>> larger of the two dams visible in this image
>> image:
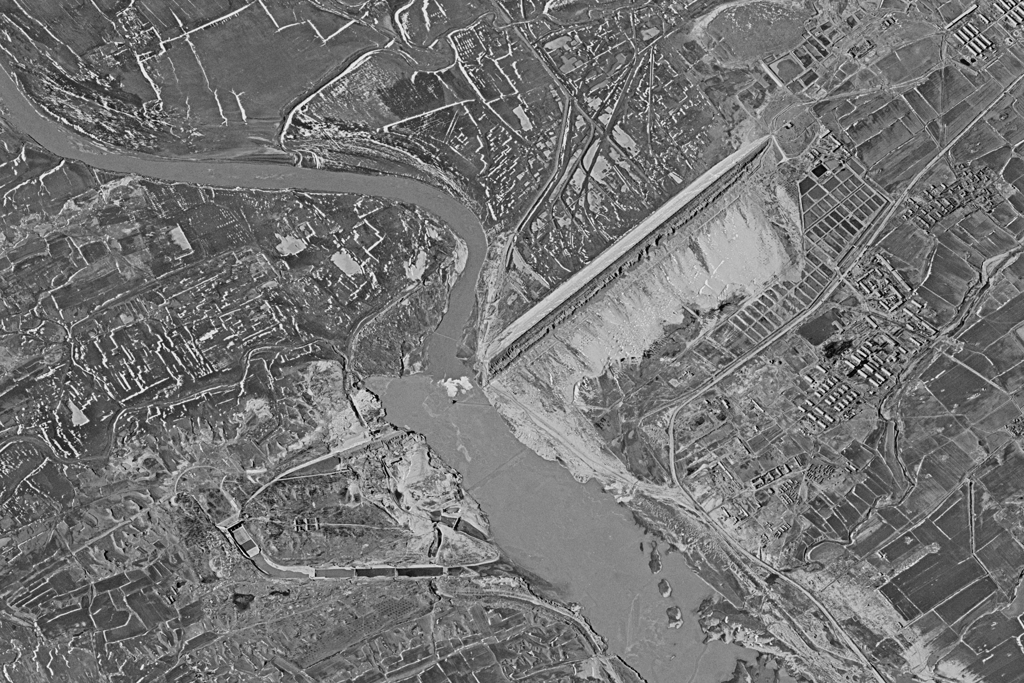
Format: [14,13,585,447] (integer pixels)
[478,134,772,368]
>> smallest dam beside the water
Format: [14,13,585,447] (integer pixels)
[268,428,410,480]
